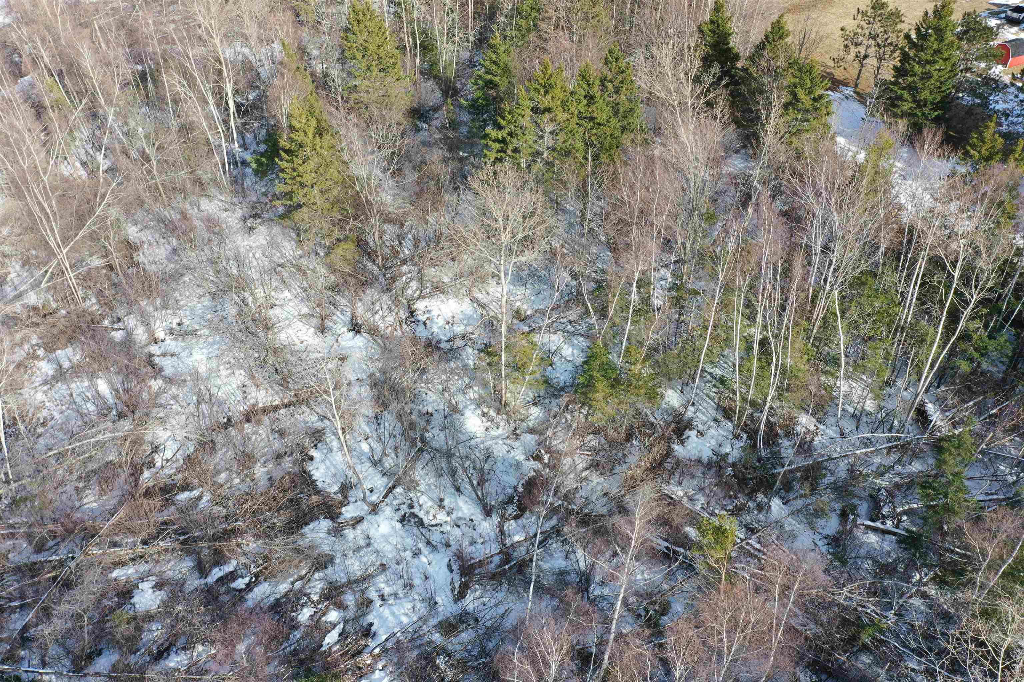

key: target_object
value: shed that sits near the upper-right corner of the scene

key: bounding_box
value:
[983,31,1024,67]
